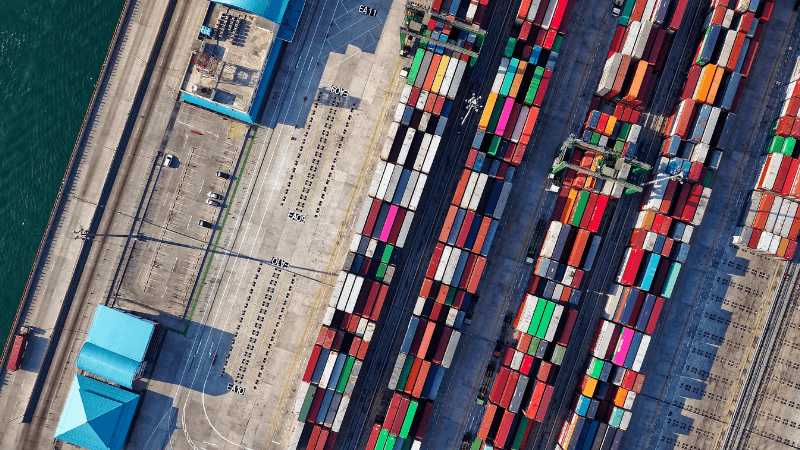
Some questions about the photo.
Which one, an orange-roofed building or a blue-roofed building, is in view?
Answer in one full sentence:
The one in the frame is a blue-roofed building.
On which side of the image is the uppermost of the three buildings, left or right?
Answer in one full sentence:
It is on the left.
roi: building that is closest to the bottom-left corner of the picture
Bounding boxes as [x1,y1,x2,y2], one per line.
[55,371,142,450]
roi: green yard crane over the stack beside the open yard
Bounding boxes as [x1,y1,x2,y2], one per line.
[398,2,491,77]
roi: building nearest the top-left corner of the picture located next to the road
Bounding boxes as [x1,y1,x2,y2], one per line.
[180,0,307,123]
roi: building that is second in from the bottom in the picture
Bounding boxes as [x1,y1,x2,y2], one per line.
[74,302,168,387]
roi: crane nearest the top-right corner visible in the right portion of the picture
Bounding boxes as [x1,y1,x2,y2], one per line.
[542,135,655,197]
